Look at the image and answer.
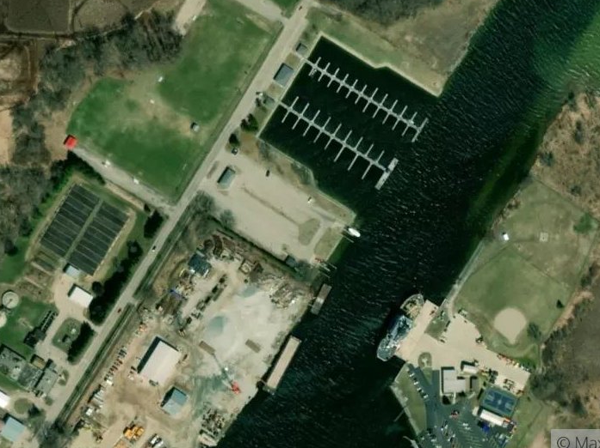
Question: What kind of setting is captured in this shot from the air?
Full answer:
It's a port.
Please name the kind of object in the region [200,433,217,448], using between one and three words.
ship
